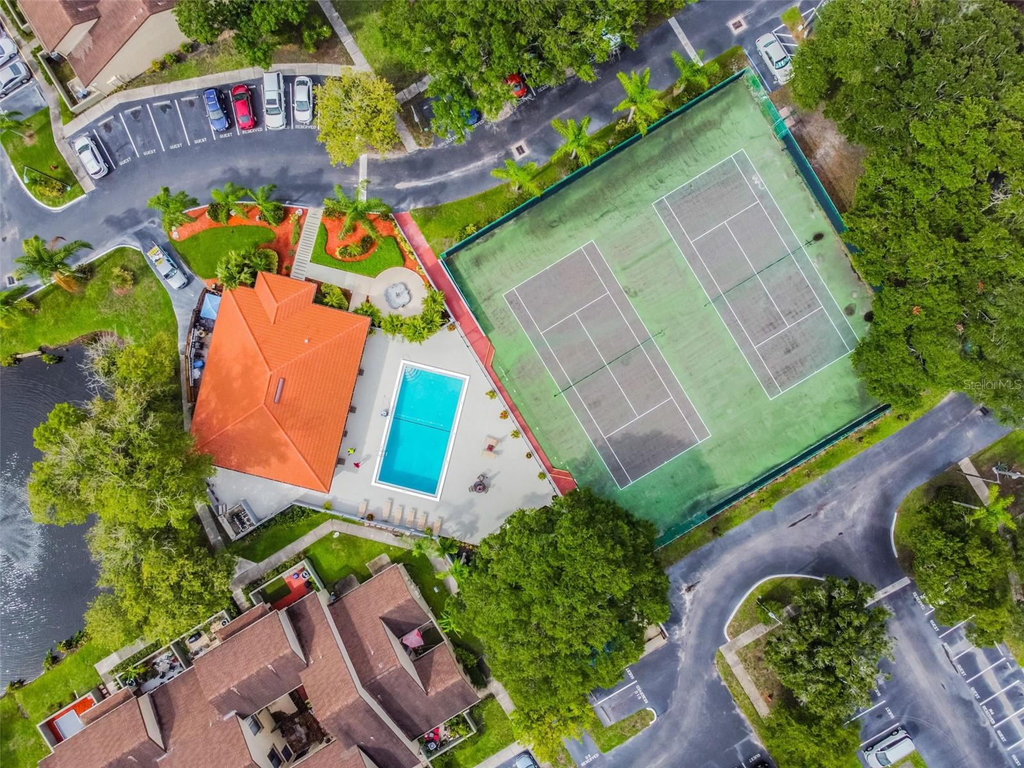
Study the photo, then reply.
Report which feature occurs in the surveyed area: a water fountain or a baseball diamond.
water fountain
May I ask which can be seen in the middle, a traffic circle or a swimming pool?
swimming pool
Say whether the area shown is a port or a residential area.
residential area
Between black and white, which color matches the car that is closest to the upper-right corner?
white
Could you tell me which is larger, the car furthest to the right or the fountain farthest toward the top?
the car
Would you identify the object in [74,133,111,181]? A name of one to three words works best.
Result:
car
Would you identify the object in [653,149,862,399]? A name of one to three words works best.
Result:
tennis court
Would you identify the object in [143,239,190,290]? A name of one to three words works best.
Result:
truck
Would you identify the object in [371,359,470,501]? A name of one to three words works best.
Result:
swimming pool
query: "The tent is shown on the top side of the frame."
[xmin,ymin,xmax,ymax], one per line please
[201,294,223,320]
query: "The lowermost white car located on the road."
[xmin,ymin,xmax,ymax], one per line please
[866,729,919,767]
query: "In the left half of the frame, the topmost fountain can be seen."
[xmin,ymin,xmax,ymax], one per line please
[382,281,412,310]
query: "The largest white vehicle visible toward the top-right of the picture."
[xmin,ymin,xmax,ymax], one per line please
[757,33,790,85]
